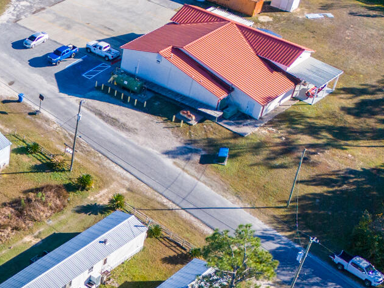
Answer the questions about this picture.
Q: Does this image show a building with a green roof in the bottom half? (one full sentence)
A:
No, I see no building with a green roof in the bottom half.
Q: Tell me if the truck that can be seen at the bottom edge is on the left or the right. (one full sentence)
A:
The truck that can be seen at the bottom edge sits on the right side.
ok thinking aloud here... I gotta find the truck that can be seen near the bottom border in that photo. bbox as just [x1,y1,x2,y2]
[329,250,384,288]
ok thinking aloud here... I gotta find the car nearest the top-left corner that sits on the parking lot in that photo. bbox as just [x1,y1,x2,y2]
[22,32,49,47]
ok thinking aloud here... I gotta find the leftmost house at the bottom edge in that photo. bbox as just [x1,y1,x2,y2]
[0,208,151,288]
